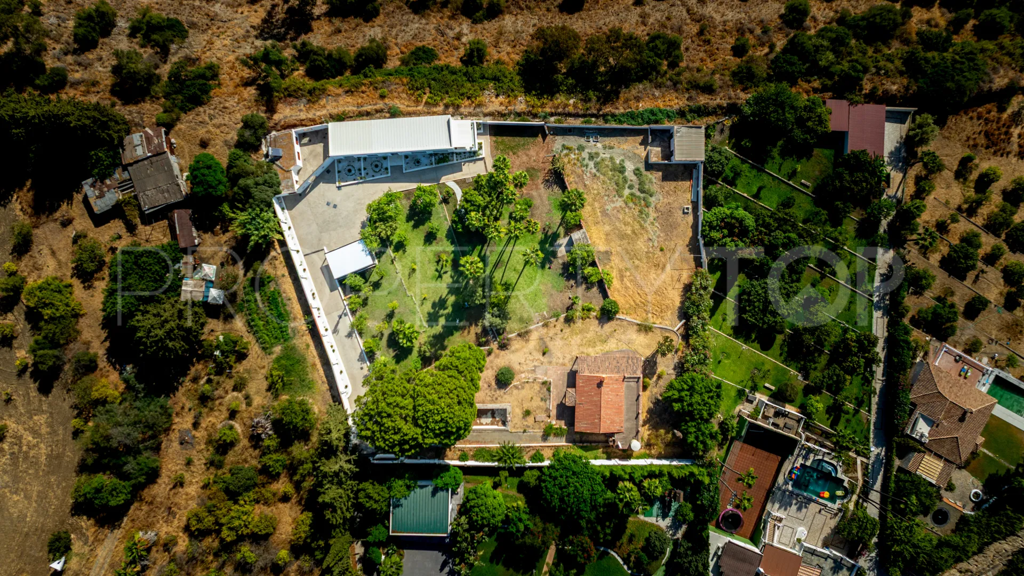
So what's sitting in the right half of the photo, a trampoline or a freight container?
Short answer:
trampoline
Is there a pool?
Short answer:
Yes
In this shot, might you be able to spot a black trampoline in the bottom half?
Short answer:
Yes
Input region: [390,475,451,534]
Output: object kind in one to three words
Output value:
building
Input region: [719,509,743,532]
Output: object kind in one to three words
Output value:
trampoline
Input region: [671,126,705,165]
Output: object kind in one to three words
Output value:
shed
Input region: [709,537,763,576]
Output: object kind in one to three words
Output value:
house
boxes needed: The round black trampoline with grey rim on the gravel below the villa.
[931,506,950,525]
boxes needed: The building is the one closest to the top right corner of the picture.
[823,100,886,158]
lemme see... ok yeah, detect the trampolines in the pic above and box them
[719,509,743,532]
[931,506,950,525]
